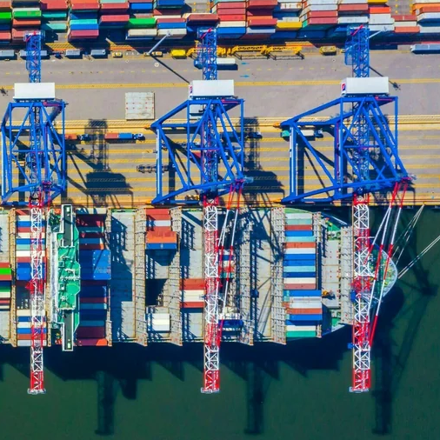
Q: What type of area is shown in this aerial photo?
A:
port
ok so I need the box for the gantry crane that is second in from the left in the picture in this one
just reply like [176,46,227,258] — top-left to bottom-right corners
[136,23,255,396]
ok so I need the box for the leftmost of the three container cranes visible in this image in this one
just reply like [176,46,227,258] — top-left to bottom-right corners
[0,26,71,396]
